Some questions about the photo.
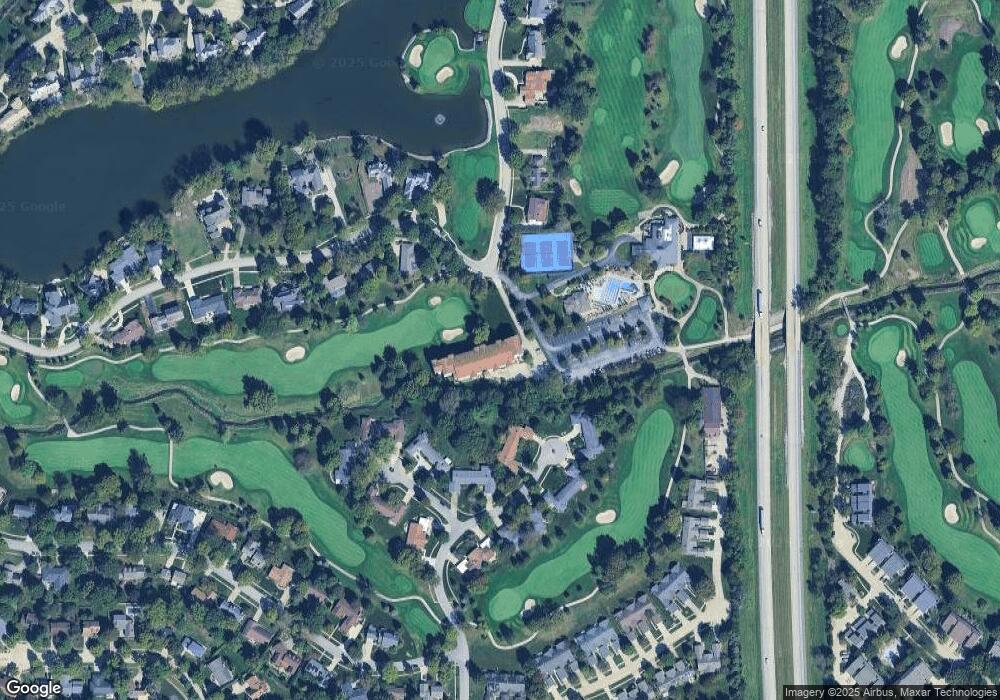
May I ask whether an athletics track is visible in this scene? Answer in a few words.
No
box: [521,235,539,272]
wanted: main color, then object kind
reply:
blue tennis court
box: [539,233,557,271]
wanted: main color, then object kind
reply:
blue tennis court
